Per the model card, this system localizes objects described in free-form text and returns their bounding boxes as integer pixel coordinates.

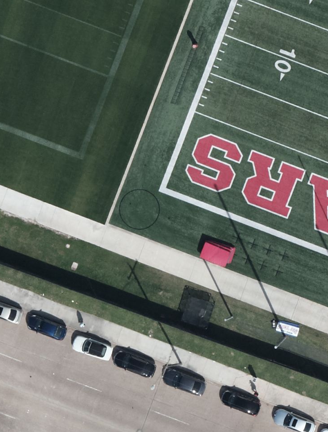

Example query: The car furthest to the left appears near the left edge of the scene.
[0,300,23,324]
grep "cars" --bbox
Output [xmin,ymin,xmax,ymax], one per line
[0,300,23,324]
[162,367,208,396]
[272,410,318,432]
[71,334,114,362]
[112,349,158,380]
[26,312,69,340]
[220,389,263,418]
